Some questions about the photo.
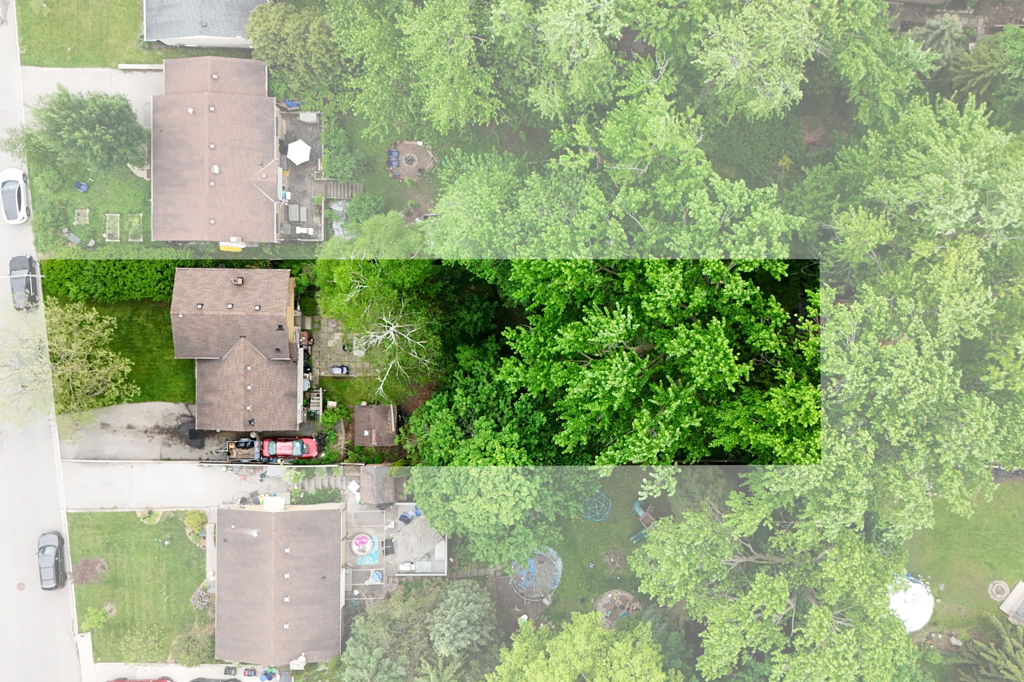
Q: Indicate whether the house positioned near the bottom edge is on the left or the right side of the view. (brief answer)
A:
left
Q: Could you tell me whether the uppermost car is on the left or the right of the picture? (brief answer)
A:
left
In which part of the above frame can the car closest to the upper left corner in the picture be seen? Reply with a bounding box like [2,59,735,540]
[0,167,33,225]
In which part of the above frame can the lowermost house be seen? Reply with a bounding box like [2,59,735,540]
[215,497,353,670]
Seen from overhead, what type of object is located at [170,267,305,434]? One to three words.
house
